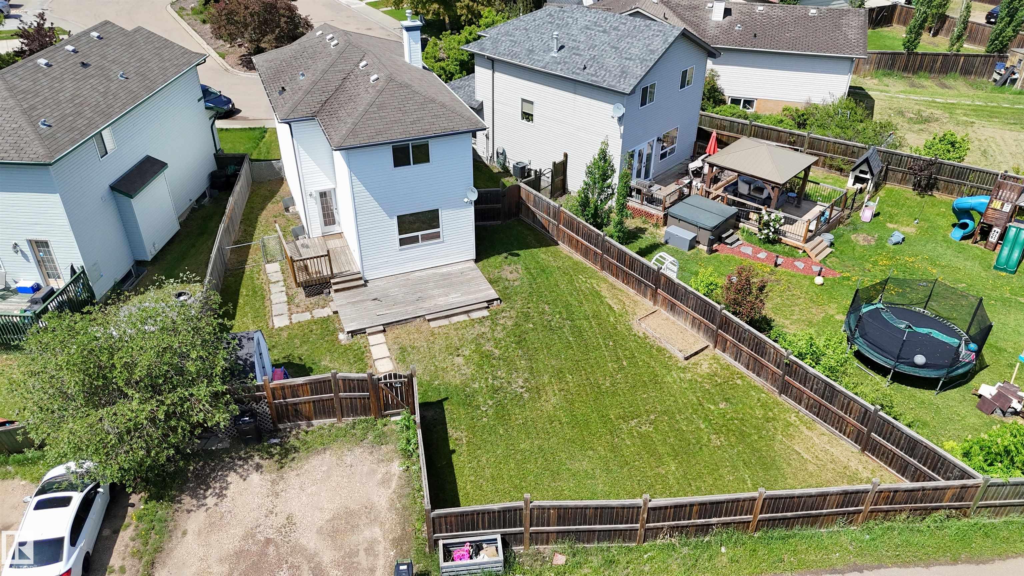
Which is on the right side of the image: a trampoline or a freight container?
trampoline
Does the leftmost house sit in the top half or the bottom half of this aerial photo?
top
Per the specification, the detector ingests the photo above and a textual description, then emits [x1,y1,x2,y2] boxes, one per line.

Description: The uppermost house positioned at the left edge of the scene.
[0,22,228,300]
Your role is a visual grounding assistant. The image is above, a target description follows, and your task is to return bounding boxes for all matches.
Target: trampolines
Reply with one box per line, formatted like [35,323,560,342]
[842,265,987,395]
